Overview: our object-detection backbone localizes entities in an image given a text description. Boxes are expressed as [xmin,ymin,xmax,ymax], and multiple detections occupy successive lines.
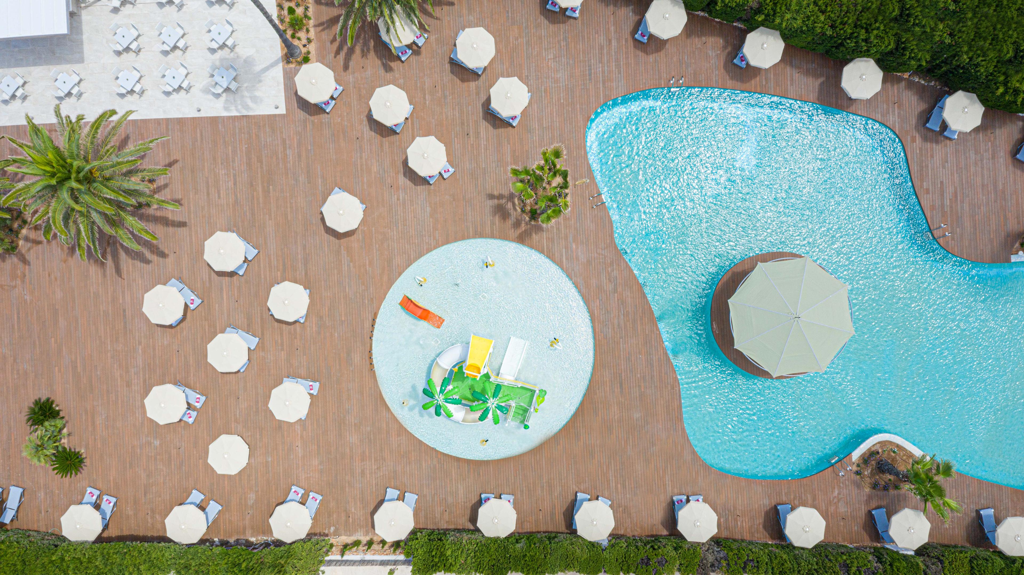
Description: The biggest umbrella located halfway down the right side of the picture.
[728,255,855,378]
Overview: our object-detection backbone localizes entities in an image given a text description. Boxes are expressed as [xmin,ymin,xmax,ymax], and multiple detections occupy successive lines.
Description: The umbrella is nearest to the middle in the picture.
[406,135,447,176]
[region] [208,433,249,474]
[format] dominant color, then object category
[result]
white umbrella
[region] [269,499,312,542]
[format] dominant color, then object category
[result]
white umbrella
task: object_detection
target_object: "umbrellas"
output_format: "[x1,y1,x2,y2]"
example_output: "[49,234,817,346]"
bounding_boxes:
[295,63,337,105]
[841,58,882,100]
[677,501,718,541]
[206,232,247,272]
[323,192,365,234]
[270,380,312,422]
[269,499,312,542]
[165,503,208,545]
[406,135,447,176]
[994,516,1024,556]
[455,28,495,69]
[373,500,415,541]
[144,284,186,326]
[369,84,412,127]
[888,508,930,550]
[555,0,585,8]
[268,281,310,324]
[574,498,615,540]
[742,27,785,70]
[941,91,985,133]
[208,332,248,372]
[476,498,517,539]
[645,0,687,39]
[489,76,529,116]
[145,382,187,424]
[784,506,826,548]
[728,255,855,378]
[208,433,249,474]
[62,502,103,543]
